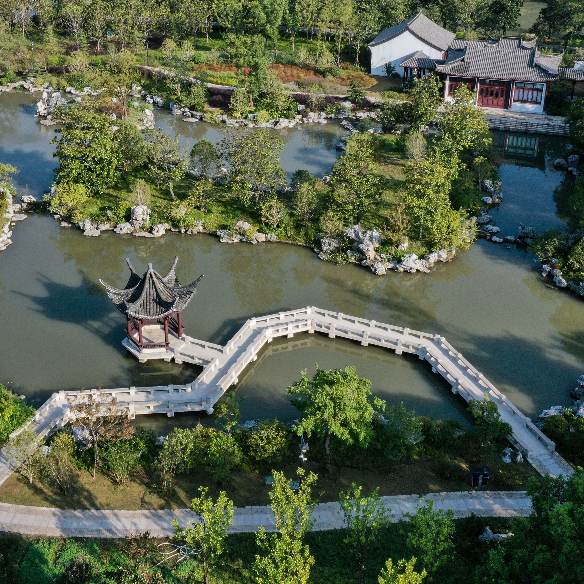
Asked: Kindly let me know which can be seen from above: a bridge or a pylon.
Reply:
bridge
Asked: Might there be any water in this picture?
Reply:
Yes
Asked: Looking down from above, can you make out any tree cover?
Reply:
Yes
